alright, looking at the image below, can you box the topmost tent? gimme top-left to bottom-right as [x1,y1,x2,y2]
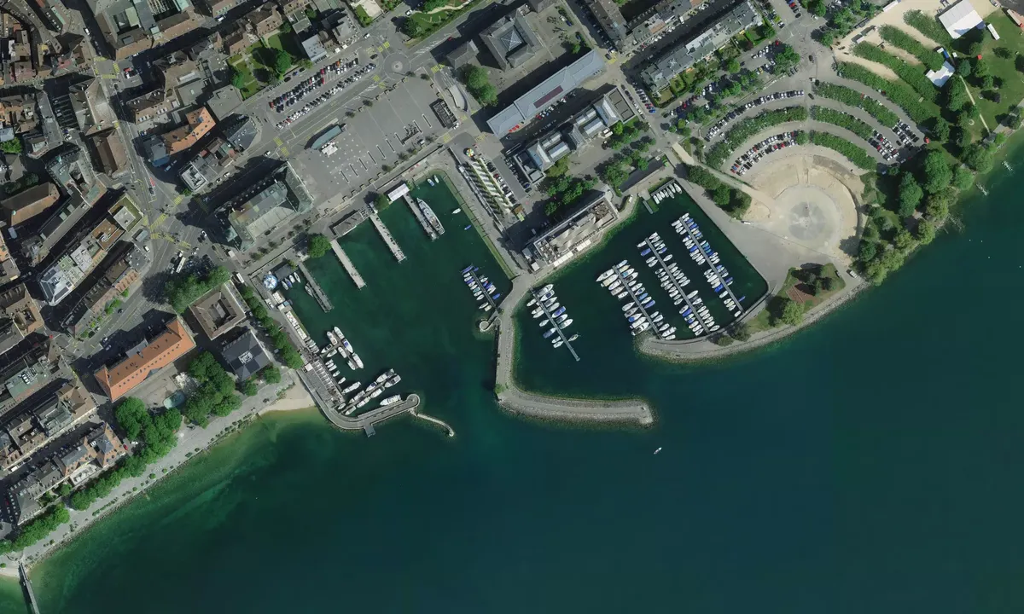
[938,0,983,39]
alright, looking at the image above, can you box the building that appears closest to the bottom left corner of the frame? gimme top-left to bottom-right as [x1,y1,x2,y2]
[8,478,46,518]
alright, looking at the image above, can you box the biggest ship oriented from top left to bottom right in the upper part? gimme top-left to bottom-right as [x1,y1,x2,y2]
[416,197,445,236]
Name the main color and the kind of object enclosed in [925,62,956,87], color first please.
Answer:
white tent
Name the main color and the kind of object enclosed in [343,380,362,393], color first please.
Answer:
white boat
